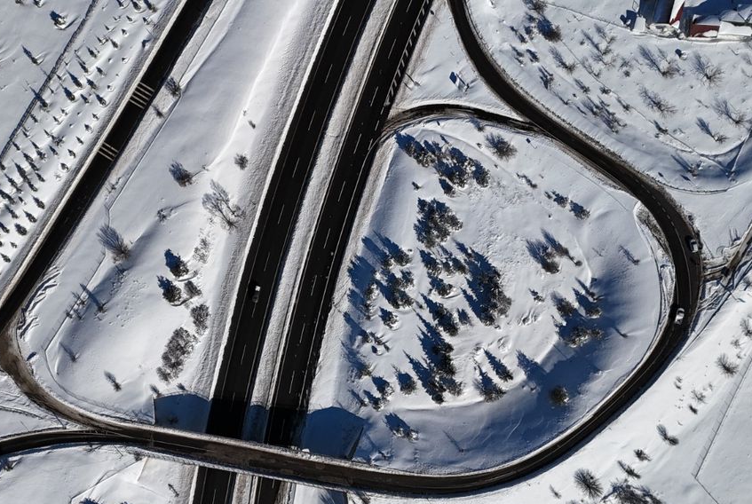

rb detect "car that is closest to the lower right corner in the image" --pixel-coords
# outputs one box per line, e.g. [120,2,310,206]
[674,306,686,323]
